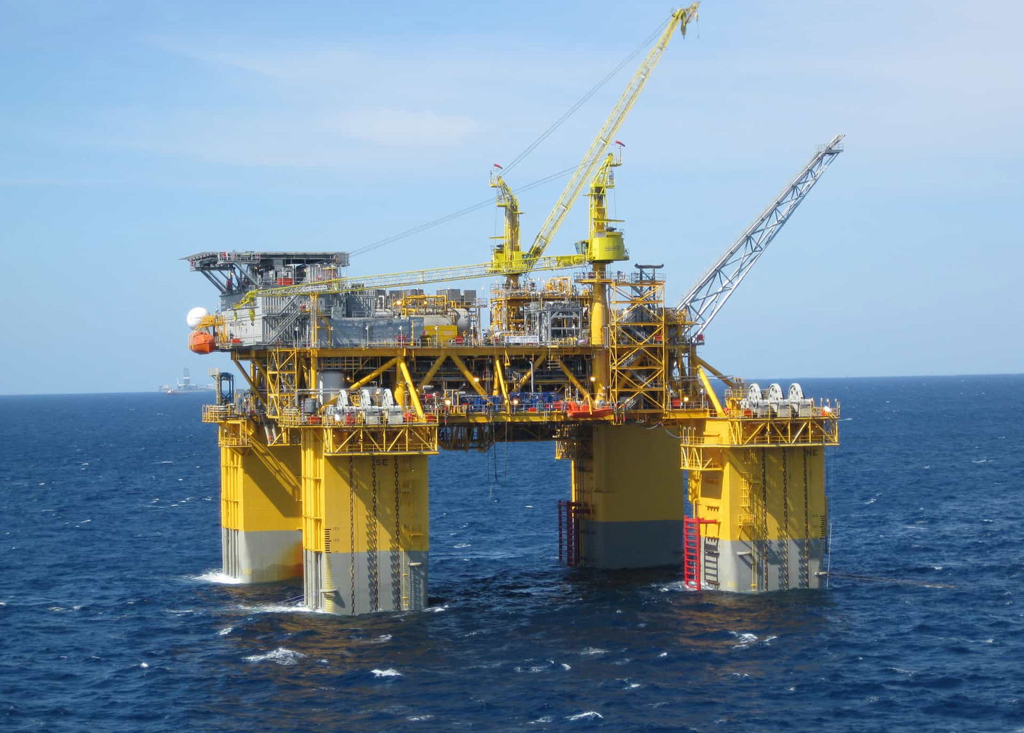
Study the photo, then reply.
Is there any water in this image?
Yes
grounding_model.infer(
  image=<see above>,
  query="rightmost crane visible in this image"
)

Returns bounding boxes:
[480,1,699,331]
